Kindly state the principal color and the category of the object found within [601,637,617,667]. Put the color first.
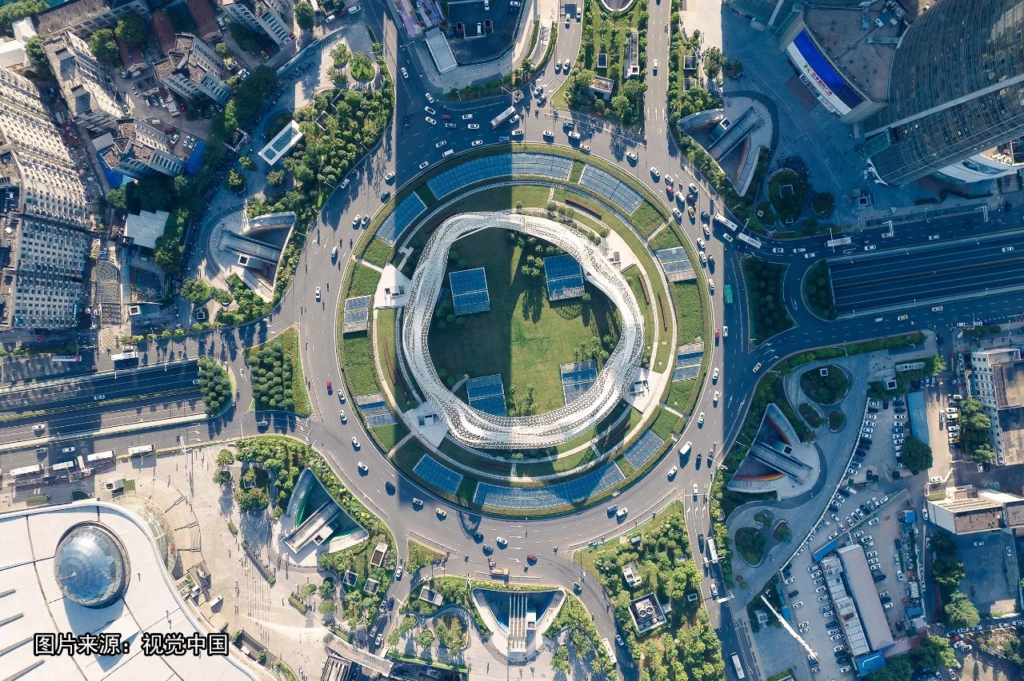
white vehicle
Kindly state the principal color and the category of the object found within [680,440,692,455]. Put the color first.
white vehicle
